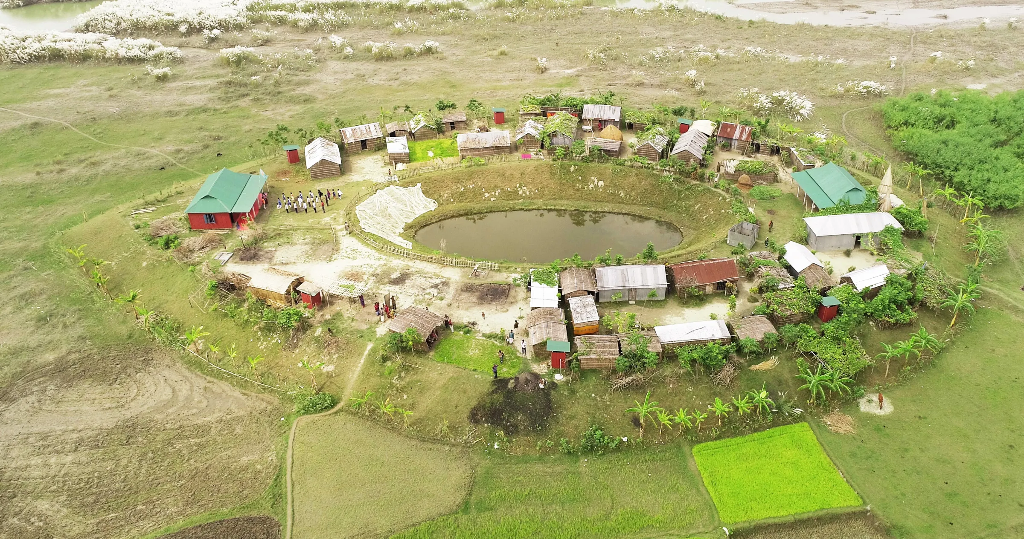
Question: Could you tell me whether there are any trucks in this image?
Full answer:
No, no truck is visible in the view.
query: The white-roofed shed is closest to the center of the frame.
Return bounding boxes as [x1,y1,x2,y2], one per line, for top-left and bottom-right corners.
[523,276,564,314]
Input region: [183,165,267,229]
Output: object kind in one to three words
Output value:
building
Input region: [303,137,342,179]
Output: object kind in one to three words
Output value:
shed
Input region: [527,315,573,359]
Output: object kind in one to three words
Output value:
shed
